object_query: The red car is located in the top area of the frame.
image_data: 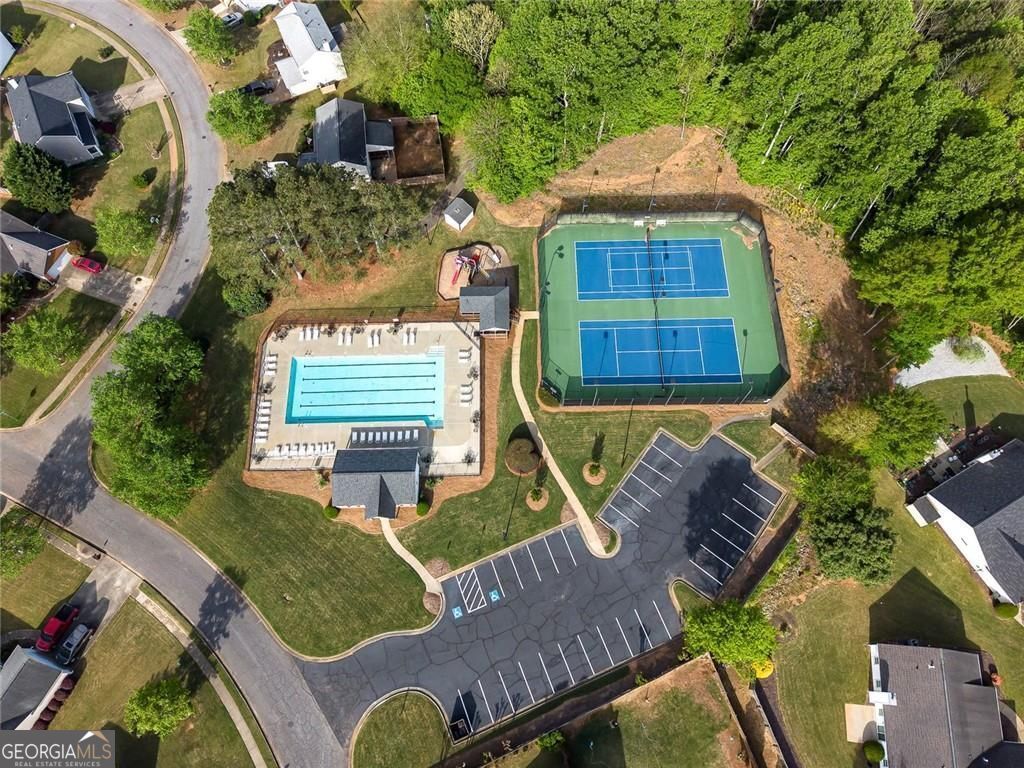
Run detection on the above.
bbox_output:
[72,256,102,275]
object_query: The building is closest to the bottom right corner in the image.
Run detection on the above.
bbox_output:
[864,645,1024,768]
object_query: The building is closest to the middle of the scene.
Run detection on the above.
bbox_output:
[460,287,509,337]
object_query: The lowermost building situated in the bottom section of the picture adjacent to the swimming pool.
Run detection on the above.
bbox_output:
[331,447,419,519]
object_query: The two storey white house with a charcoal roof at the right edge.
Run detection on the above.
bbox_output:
[906,440,1024,609]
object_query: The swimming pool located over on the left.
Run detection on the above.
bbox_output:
[285,343,447,431]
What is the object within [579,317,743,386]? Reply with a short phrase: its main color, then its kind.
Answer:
blue tennis court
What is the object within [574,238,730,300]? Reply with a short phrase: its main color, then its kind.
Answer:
blue tennis court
